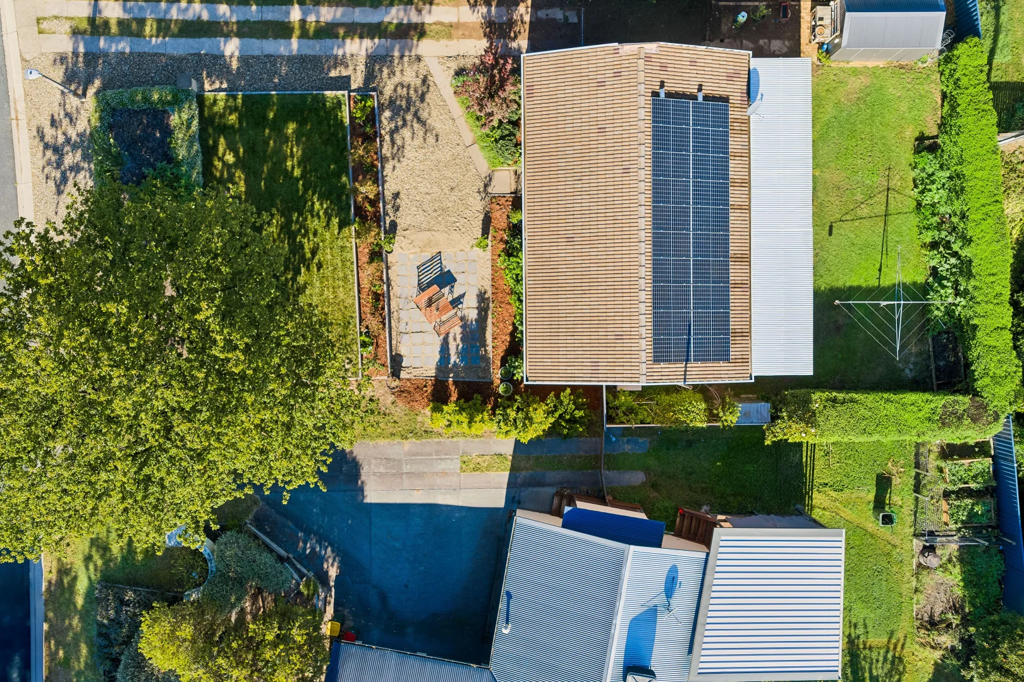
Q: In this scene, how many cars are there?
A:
none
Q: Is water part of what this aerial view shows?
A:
No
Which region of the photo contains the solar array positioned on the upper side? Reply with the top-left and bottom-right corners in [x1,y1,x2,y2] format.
[652,90,730,364]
